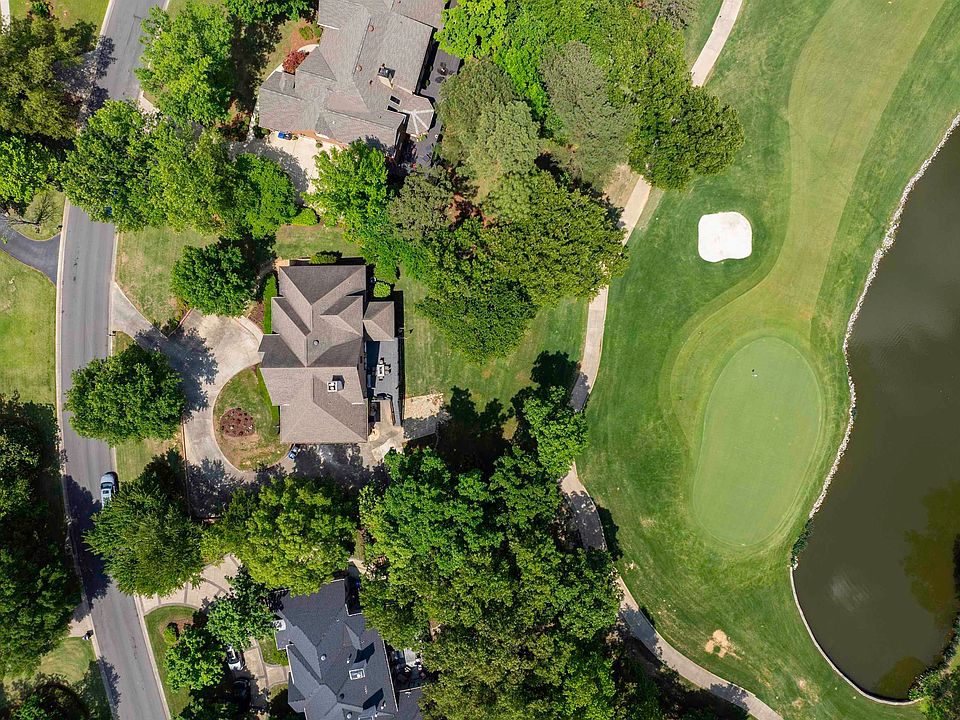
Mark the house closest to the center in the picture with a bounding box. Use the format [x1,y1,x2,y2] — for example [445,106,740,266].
[259,264,400,442]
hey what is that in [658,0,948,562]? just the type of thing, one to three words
golf course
